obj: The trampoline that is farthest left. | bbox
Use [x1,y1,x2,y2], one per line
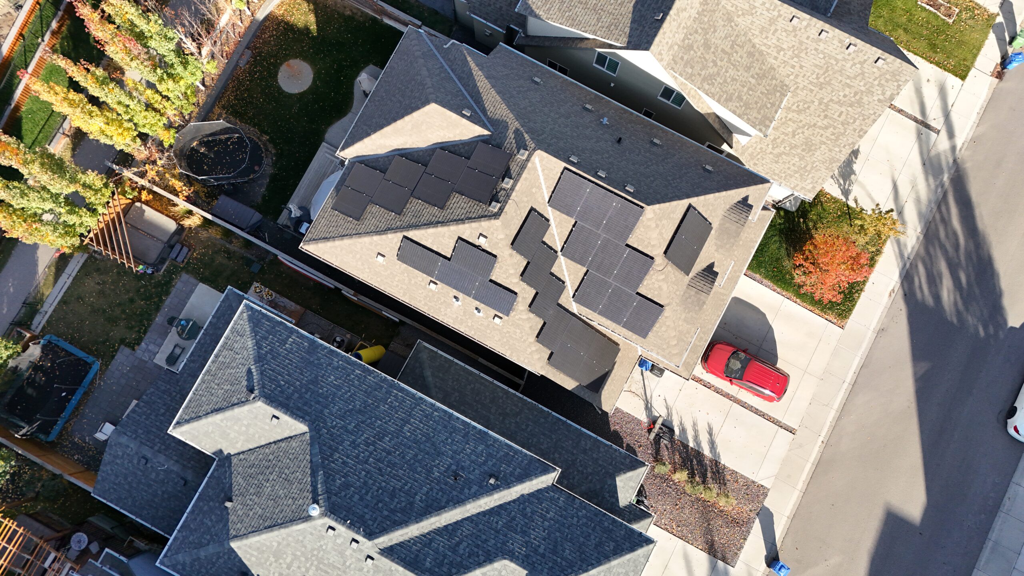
[0,329,98,444]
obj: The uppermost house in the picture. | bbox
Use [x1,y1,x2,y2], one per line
[465,0,916,203]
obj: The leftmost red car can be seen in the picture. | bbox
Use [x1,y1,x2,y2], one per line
[700,342,792,403]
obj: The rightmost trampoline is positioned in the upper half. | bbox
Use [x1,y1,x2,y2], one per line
[171,119,278,193]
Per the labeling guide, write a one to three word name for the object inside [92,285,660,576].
house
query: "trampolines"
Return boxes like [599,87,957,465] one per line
[0,329,98,444]
[171,119,278,193]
